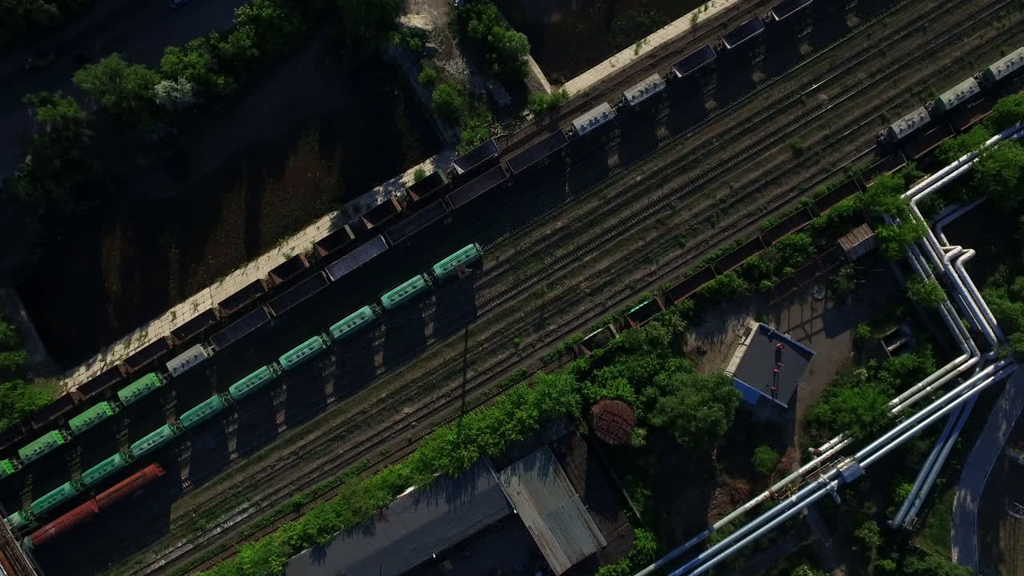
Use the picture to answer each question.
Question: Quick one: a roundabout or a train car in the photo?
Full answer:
It is a train car that can be seen here.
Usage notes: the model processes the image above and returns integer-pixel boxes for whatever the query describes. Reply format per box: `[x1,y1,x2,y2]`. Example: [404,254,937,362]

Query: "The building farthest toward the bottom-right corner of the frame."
[724,322,816,408]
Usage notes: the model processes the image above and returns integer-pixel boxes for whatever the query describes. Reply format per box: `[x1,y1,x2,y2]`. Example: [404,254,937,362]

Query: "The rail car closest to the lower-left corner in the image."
[0,503,41,537]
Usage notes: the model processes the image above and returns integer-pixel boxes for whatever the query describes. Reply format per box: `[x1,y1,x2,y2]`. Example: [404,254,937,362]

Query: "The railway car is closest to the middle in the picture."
[432,241,485,280]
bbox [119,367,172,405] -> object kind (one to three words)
rail car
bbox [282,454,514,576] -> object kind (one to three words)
building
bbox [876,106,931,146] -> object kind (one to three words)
rail car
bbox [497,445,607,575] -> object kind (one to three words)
shed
